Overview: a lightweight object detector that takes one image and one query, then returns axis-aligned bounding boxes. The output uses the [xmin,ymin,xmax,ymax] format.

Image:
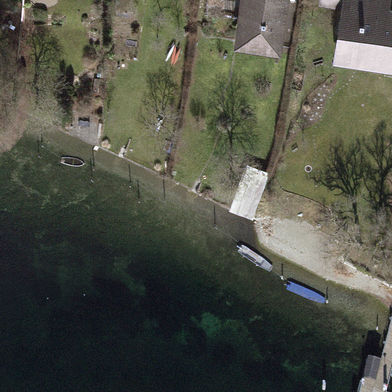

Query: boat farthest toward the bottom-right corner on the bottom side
[284,280,327,304]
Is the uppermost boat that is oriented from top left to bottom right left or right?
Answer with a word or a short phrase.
right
